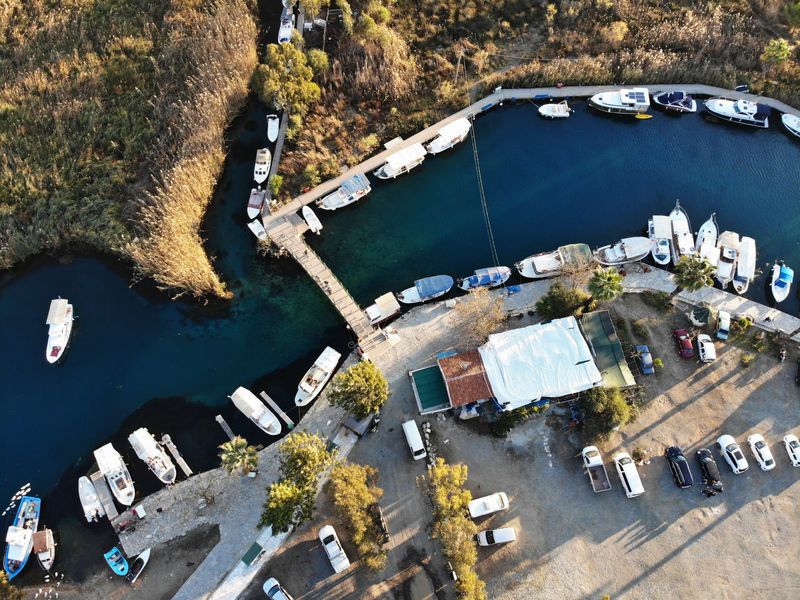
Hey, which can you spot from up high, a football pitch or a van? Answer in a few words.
van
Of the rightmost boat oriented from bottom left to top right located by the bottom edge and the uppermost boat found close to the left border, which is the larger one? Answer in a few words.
the uppermost boat found close to the left border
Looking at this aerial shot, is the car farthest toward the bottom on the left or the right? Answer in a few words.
left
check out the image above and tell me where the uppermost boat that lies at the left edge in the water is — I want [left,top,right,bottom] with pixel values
[38,289,74,362]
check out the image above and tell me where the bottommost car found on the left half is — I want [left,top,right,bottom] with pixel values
[261,575,295,600]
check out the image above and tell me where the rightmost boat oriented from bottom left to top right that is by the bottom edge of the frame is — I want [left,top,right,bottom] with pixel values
[127,548,152,583]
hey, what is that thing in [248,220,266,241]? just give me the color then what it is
white boat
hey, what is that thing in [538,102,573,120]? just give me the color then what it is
white boat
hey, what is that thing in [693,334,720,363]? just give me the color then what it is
white car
